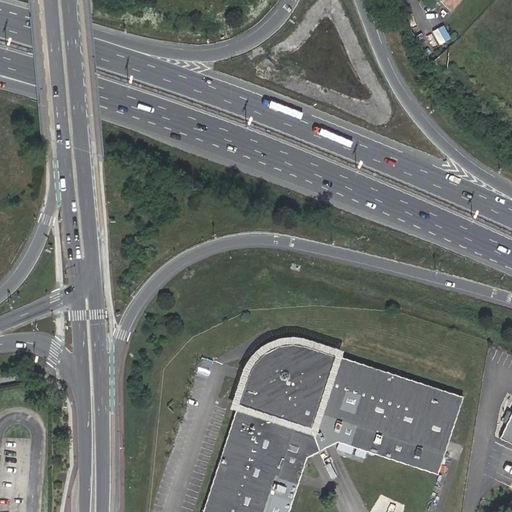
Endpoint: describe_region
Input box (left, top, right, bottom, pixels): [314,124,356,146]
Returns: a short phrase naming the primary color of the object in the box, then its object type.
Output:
white truck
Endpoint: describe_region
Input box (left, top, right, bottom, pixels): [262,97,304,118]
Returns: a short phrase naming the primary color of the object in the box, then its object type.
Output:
white truck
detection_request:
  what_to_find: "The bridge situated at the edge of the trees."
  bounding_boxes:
[30,0,104,158]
